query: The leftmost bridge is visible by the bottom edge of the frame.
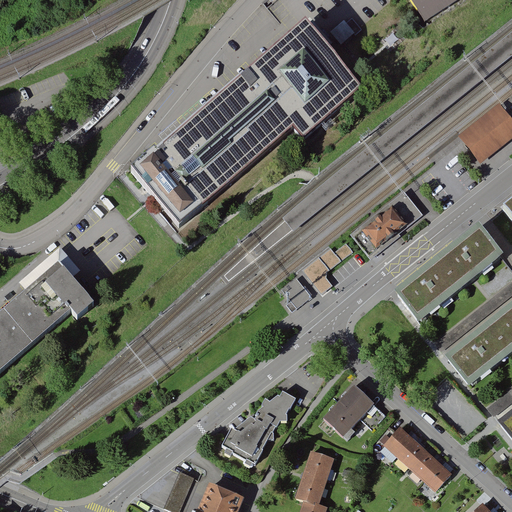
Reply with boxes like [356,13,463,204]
[0,450,58,486]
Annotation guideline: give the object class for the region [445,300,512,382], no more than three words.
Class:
building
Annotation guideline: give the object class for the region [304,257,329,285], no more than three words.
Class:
shed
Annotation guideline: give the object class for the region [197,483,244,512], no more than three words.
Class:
house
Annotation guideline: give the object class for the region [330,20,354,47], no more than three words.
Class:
building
